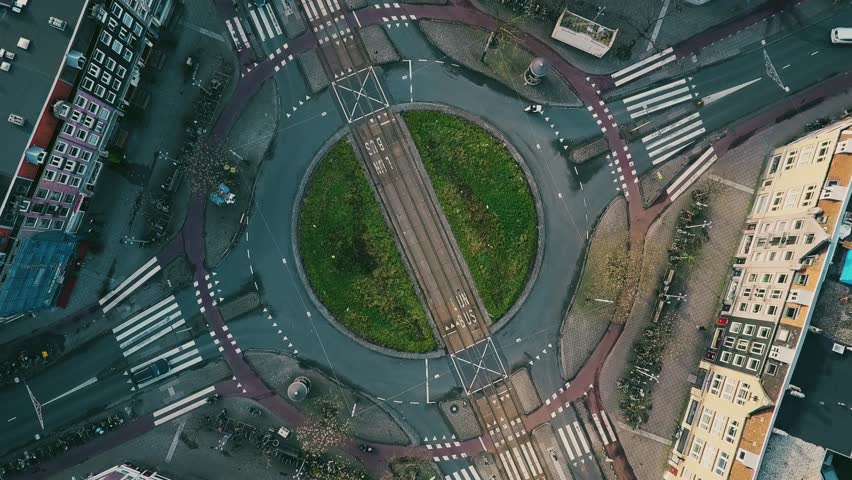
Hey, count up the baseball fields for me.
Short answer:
none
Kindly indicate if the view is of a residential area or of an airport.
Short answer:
residential area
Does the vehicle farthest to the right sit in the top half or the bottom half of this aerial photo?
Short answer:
top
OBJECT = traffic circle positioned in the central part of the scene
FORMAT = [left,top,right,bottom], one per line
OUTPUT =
[251,63,587,399]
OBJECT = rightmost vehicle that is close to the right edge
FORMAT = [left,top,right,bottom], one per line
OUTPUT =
[829,23,852,45]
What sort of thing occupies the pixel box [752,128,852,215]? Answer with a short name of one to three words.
house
